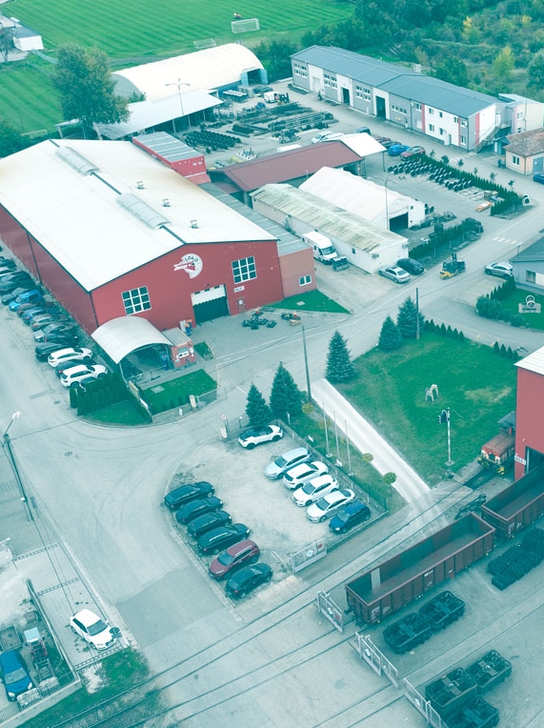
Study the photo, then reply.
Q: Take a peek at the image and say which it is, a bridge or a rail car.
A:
rail car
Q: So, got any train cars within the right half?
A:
Yes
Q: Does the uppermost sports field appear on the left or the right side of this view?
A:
left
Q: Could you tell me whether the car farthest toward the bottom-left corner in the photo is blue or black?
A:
blue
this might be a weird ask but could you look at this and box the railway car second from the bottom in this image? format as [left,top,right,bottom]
[481,460,544,545]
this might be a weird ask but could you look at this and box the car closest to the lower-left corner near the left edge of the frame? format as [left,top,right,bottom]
[0,643,32,699]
